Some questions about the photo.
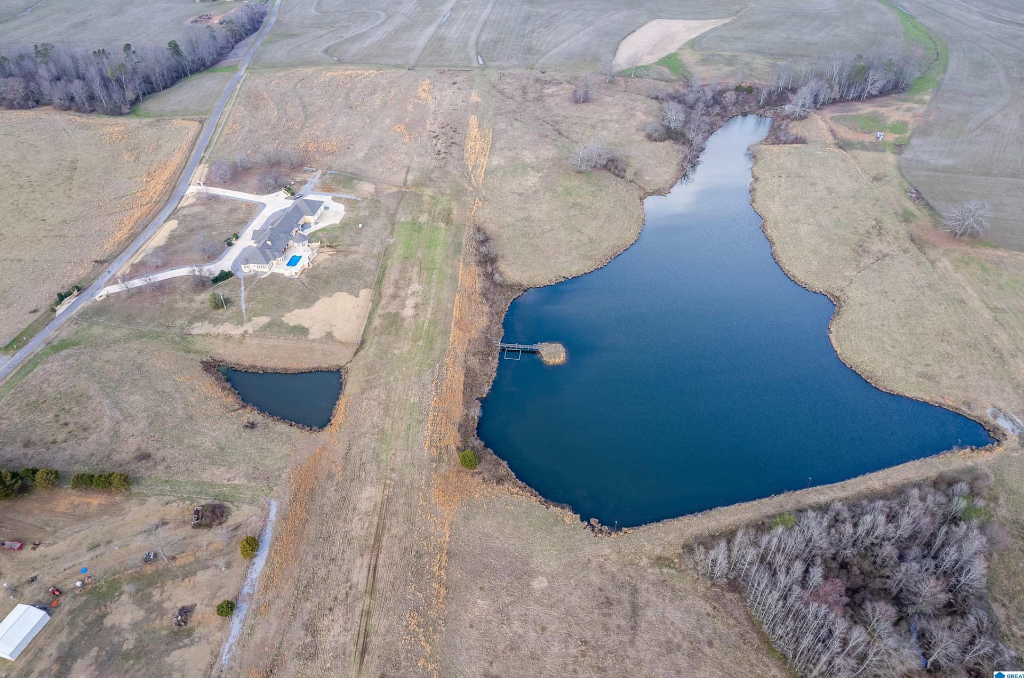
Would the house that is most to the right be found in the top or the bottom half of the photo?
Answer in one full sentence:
The top half of the photo is where the house that is most to the right is.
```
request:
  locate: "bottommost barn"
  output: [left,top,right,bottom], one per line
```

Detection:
[0,603,51,661]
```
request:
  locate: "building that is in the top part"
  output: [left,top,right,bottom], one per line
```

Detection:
[240,196,326,273]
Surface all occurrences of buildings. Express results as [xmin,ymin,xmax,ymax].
[240,196,326,273]
[0,603,51,661]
